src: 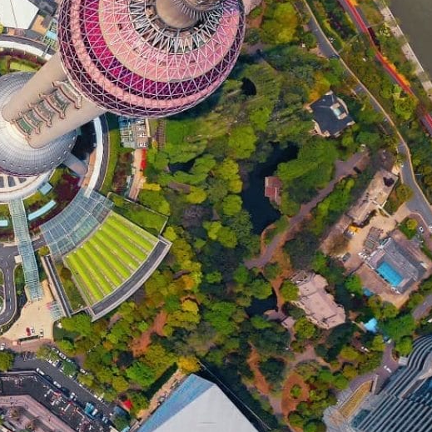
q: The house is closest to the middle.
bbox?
[261,177,282,202]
